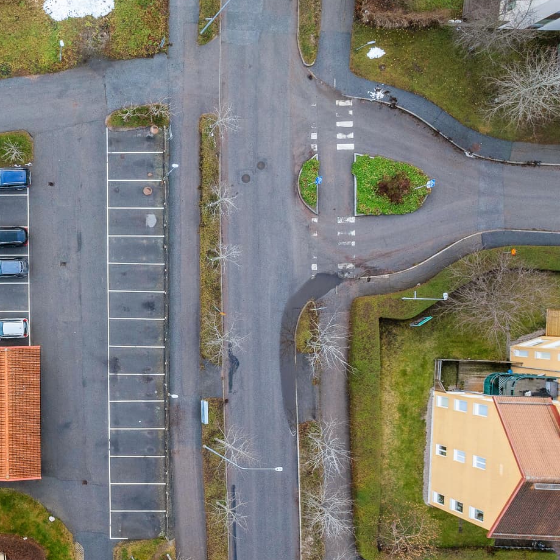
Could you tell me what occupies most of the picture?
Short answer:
paved ground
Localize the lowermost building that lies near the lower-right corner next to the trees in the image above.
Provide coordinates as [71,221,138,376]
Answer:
[430,392,560,539]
